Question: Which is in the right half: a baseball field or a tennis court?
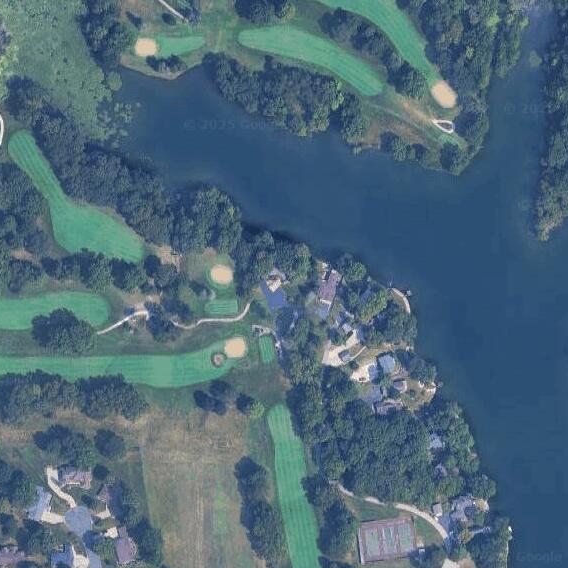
tennis court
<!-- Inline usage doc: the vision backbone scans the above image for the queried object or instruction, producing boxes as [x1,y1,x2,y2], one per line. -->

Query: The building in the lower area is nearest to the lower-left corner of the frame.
[0,546,25,564]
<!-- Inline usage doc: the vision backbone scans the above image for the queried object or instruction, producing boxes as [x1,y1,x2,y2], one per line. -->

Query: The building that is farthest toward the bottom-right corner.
[450,497,476,523]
